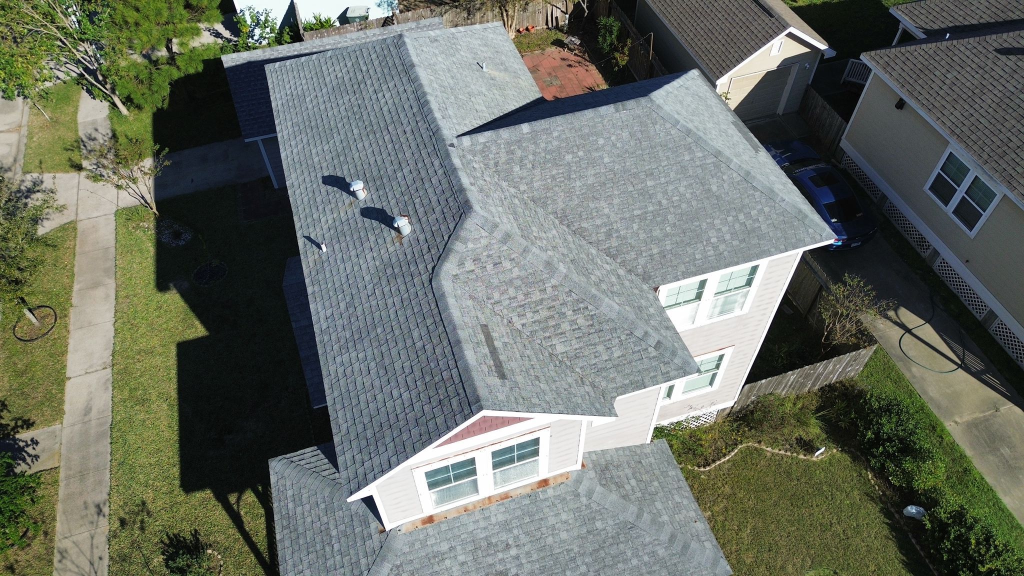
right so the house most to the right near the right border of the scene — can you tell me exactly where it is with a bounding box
[836,0,1024,368]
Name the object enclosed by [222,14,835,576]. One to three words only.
house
